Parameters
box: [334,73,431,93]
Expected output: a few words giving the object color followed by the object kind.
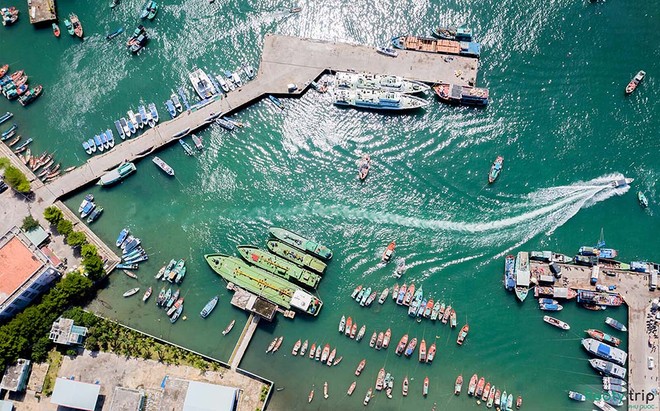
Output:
white ship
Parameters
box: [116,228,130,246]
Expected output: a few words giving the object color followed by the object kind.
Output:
blue boat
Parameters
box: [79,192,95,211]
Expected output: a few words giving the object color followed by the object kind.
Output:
white boat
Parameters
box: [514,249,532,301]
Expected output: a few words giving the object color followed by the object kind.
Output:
white boat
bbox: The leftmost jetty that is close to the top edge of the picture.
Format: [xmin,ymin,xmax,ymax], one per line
[30,0,57,25]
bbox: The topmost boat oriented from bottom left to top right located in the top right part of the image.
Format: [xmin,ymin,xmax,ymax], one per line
[626,70,648,94]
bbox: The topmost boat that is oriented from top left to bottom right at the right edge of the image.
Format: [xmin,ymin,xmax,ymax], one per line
[636,191,649,207]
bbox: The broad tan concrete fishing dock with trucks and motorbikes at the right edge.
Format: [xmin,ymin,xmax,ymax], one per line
[529,260,660,411]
